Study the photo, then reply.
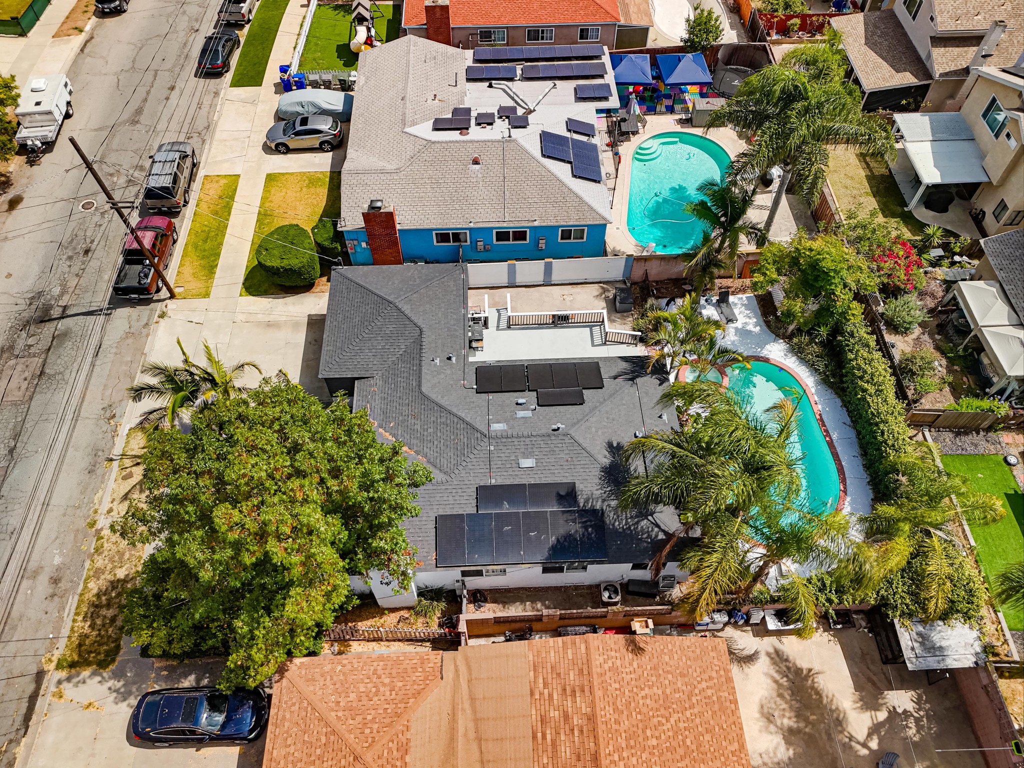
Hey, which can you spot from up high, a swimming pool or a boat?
swimming pool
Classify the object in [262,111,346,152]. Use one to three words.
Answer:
car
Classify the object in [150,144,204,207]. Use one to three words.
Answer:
car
